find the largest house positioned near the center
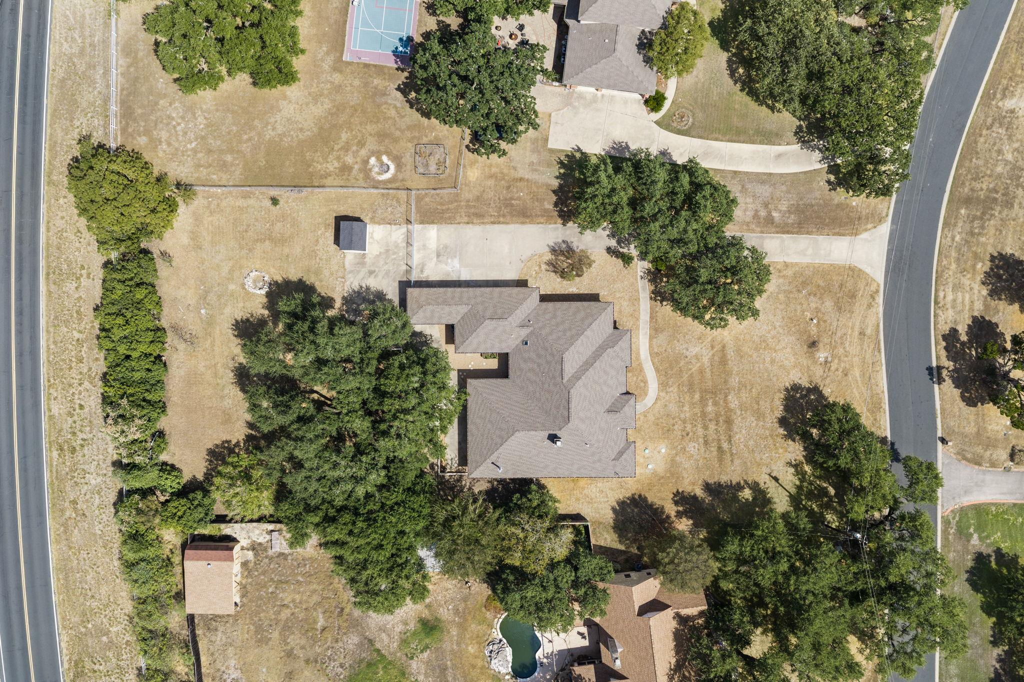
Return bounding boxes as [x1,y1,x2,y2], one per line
[406,287,636,478]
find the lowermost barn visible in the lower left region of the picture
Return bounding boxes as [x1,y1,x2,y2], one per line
[181,541,240,614]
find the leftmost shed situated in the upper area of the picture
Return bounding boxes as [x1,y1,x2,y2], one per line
[340,220,371,252]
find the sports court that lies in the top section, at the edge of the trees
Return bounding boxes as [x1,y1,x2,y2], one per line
[343,0,422,69]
